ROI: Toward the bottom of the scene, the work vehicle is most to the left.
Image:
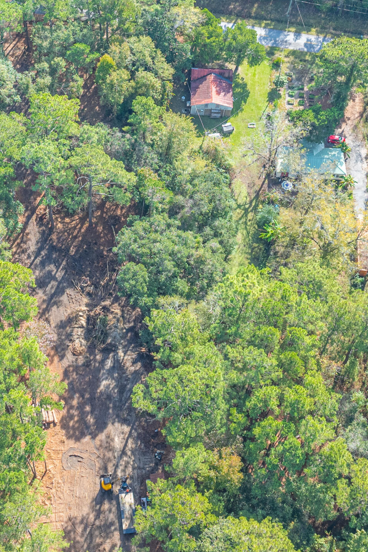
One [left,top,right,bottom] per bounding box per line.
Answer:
[100,472,125,493]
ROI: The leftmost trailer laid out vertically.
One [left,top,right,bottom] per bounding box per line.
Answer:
[118,480,137,534]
